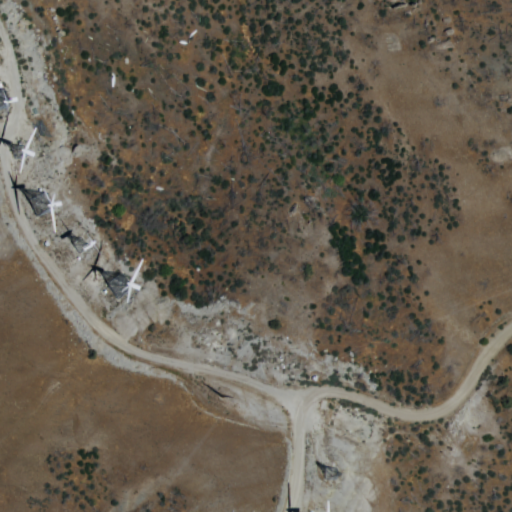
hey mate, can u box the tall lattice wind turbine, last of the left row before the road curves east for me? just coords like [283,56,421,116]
[117,260,142,301]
